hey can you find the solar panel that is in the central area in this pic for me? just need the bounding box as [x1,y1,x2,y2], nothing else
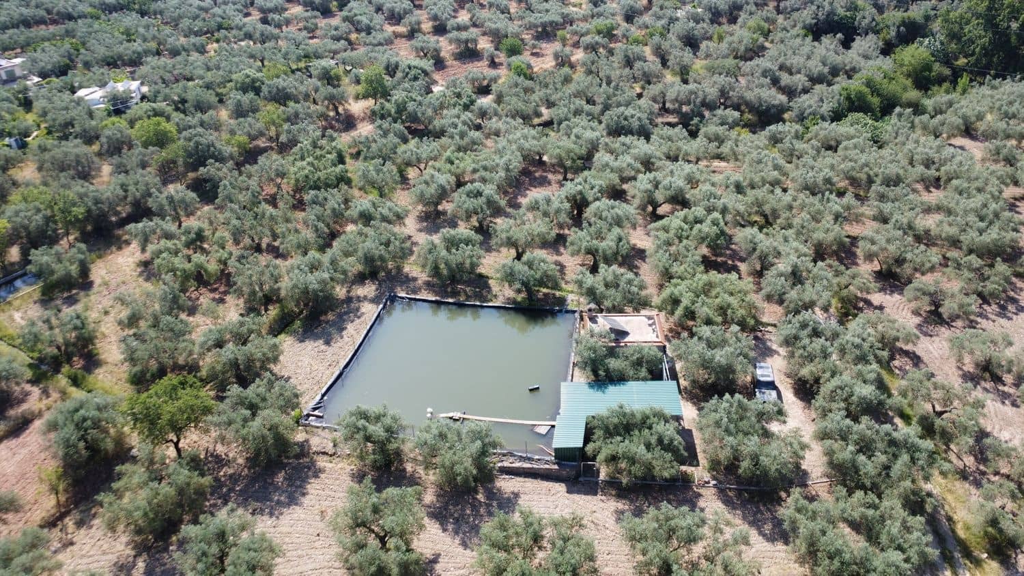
[600,316,630,341]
